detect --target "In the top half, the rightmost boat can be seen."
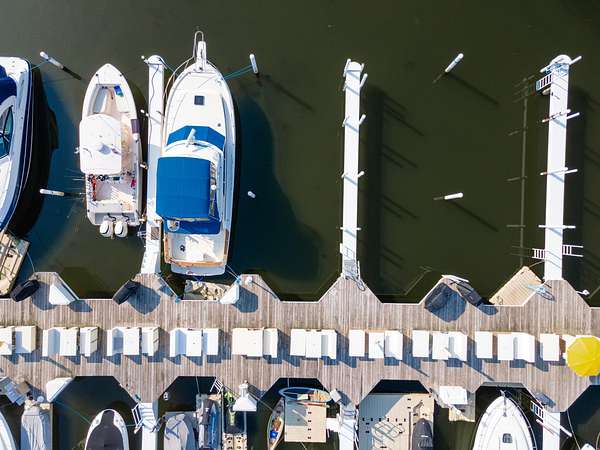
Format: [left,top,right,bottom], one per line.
[155,31,238,274]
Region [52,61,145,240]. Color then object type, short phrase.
white boat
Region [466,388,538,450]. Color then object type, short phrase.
white boat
